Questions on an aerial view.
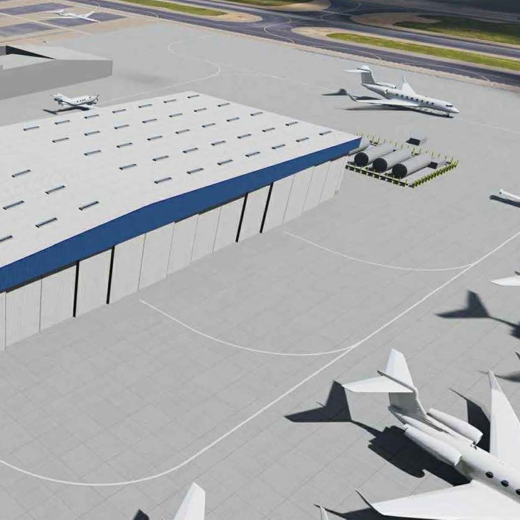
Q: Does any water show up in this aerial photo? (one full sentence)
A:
No, the scene doesn't show any water.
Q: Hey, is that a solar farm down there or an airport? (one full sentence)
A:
This image shows an airport.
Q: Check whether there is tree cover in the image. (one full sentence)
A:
No, the scene doesn't show any tree cover.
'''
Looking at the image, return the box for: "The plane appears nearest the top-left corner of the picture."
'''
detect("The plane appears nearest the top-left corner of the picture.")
[64,9,101,23]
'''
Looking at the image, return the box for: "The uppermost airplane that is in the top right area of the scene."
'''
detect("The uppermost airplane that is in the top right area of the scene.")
[347,65,464,118]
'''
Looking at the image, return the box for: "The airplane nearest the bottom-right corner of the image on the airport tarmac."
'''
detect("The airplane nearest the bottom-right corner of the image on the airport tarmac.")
[344,349,520,520]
